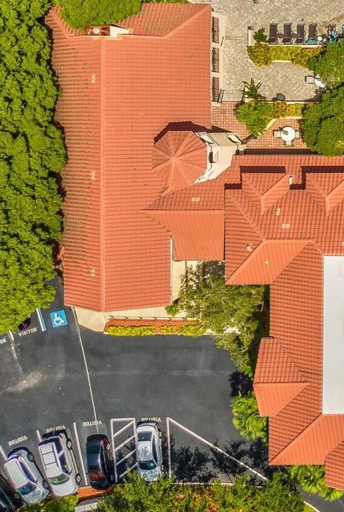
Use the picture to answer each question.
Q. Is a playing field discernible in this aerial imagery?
No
